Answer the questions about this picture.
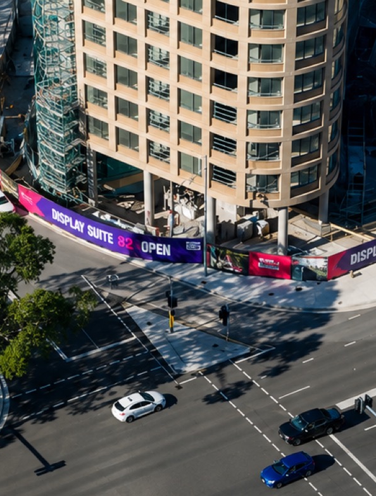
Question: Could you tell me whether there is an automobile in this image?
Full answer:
Yes, looking at the shot, I can spot an automobile.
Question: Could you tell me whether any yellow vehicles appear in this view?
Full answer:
No, the photo shows no yellow vehicle.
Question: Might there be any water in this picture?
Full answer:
No, there's no water in this view.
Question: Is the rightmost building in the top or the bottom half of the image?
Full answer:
You can find the rightmost building in the top half.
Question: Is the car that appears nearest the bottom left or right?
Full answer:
It is on the right.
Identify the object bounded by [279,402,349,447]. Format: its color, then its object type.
black truck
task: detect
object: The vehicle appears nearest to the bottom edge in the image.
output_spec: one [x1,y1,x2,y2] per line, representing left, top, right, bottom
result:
[261,449,318,489]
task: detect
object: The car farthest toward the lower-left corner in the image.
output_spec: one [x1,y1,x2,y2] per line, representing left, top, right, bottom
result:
[110,389,170,424]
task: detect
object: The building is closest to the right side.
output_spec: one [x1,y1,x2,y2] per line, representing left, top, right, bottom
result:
[72,0,357,255]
